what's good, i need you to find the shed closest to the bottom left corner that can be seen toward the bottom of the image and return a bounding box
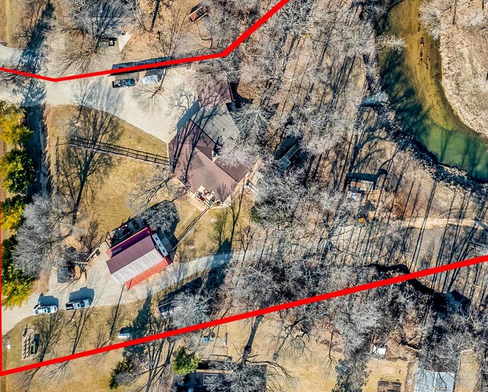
[55,264,74,285]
